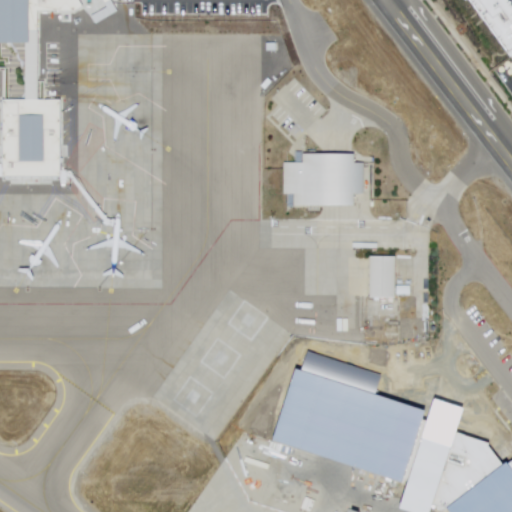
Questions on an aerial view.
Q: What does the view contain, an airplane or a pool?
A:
airplane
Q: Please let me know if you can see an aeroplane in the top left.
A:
Yes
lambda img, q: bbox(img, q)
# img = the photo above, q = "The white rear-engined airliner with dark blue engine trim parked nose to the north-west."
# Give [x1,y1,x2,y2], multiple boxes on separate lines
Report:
[99,104,150,141]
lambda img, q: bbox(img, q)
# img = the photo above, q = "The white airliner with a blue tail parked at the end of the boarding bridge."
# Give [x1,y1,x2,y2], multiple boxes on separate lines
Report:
[86,214,143,277]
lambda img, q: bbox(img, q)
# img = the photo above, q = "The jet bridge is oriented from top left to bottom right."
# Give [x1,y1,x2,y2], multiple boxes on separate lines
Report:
[61,170,114,224]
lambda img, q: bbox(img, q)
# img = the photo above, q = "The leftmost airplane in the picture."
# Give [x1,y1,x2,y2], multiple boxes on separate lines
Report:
[18,222,61,280]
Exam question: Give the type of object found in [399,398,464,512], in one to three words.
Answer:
hangar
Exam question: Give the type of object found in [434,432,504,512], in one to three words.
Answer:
building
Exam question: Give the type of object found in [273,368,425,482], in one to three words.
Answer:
hangar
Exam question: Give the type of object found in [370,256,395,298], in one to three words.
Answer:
building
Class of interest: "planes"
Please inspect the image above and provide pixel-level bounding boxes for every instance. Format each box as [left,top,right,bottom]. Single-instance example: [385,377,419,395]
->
[99,104,150,141]
[86,214,143,277]
[18,222,61,280]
